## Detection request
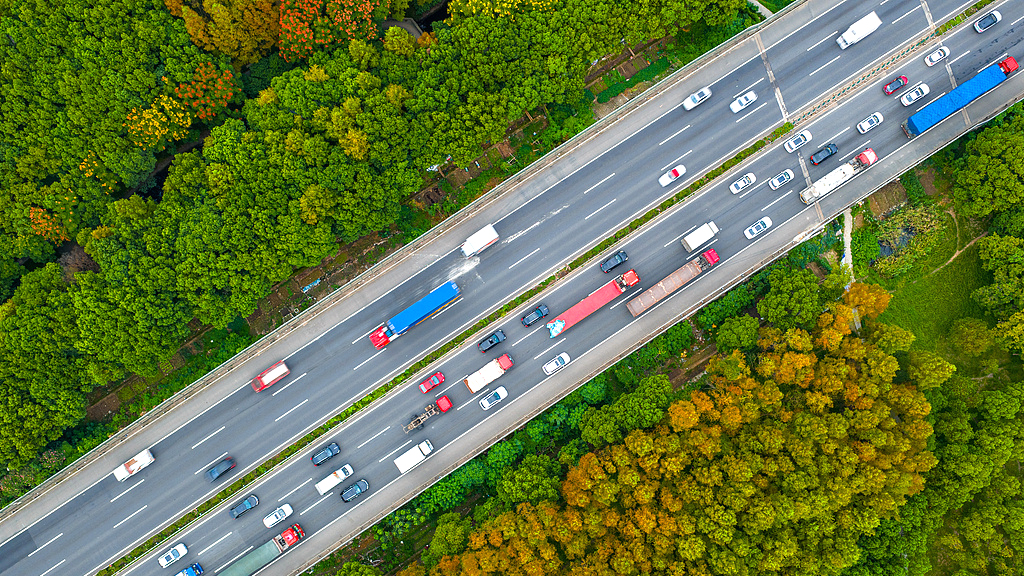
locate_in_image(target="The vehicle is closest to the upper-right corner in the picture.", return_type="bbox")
[972,11,1001,35]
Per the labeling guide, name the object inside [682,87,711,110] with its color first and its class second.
white car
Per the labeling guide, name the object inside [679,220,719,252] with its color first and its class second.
white truck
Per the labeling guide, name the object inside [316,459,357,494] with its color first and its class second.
white truck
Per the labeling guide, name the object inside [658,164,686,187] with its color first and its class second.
white car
